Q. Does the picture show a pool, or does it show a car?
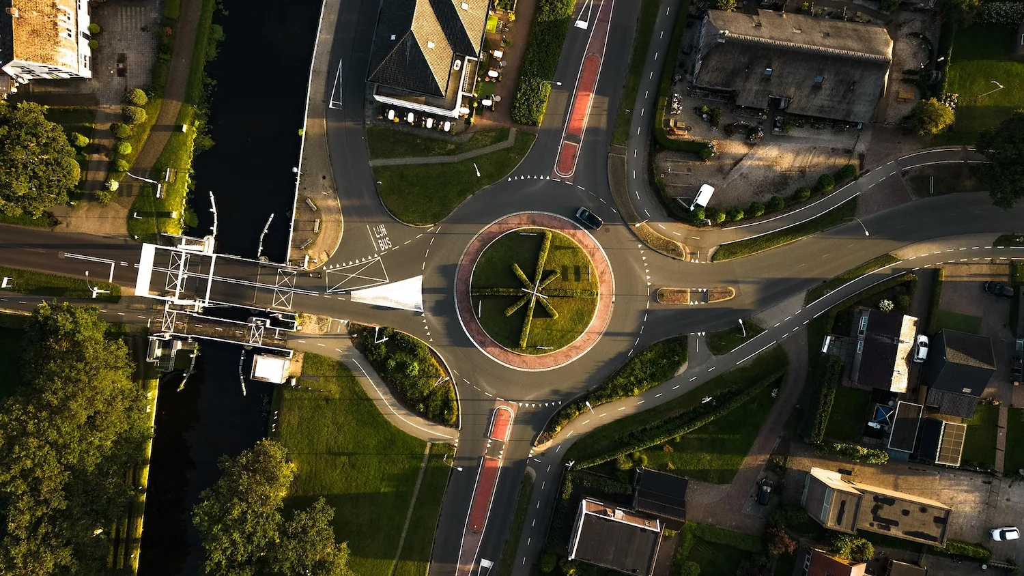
car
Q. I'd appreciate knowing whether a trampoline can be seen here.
No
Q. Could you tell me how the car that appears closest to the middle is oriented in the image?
at an angle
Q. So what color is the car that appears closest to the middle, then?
black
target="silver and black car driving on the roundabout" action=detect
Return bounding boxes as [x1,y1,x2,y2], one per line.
[576,206,604,230]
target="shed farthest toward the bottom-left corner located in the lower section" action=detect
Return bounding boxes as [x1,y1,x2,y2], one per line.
[250,353,295,384]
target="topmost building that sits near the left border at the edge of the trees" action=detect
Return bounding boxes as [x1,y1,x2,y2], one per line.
[0,0,90,80]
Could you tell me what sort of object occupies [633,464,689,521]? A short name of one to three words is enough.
building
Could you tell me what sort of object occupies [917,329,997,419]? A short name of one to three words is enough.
house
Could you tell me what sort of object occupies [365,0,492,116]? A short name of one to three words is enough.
building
